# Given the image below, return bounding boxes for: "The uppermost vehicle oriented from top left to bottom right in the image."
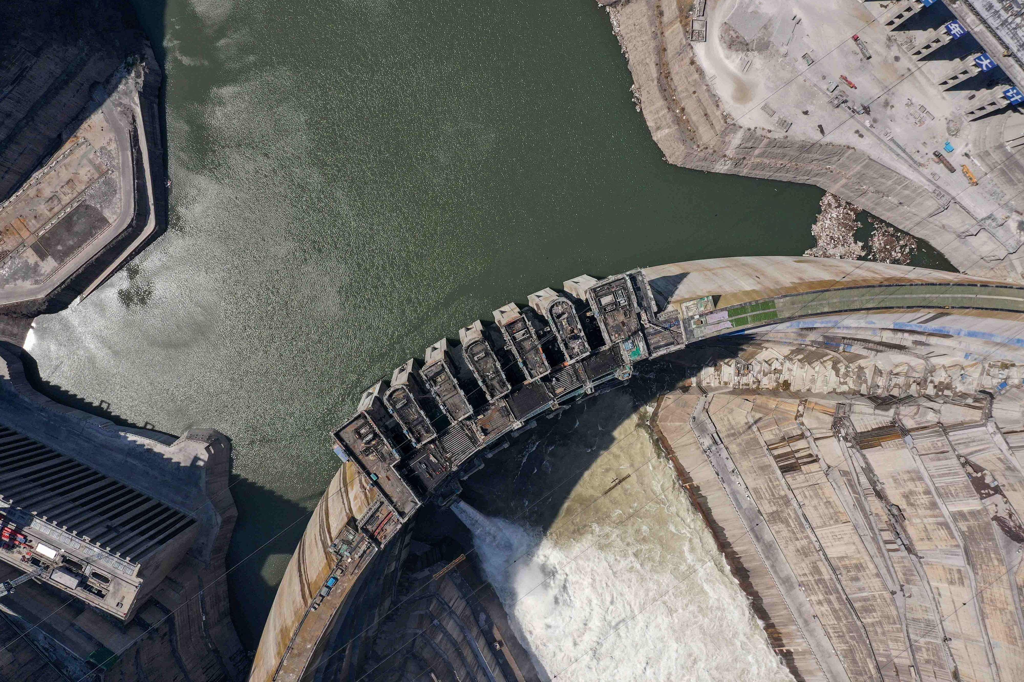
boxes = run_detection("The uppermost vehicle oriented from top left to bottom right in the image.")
[853,33,874,60]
